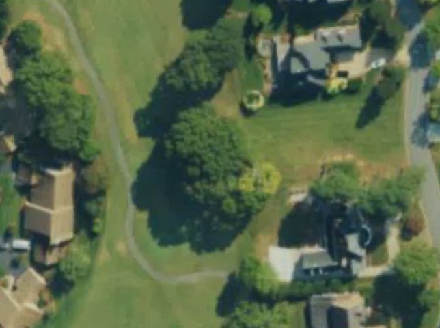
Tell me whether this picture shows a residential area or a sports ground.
residential area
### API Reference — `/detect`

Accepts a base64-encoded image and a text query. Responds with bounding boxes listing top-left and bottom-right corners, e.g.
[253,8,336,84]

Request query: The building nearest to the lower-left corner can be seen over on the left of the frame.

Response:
[0,260,49,328]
